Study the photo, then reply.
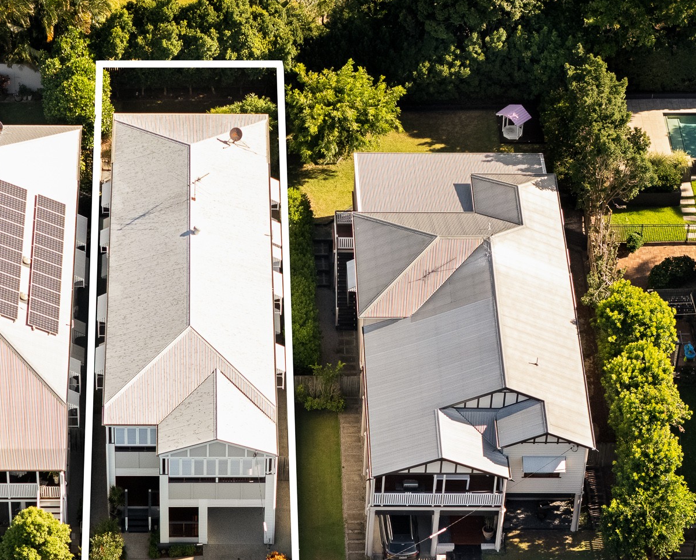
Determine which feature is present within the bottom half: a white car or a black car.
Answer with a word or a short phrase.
black car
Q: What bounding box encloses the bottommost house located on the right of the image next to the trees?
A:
[334,159,597,557]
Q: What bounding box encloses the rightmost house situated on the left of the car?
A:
[97,111,285,544]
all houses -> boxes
[0,124,89,550]
[97,111,285,544]
[334,159,597,557]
